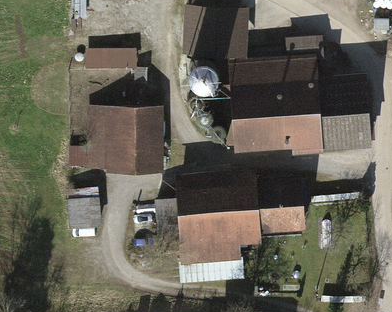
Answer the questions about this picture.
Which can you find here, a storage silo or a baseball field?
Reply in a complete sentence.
This aerial view contains a storage silo.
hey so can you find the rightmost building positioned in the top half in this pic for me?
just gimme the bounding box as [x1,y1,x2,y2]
[324,73,372,151]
